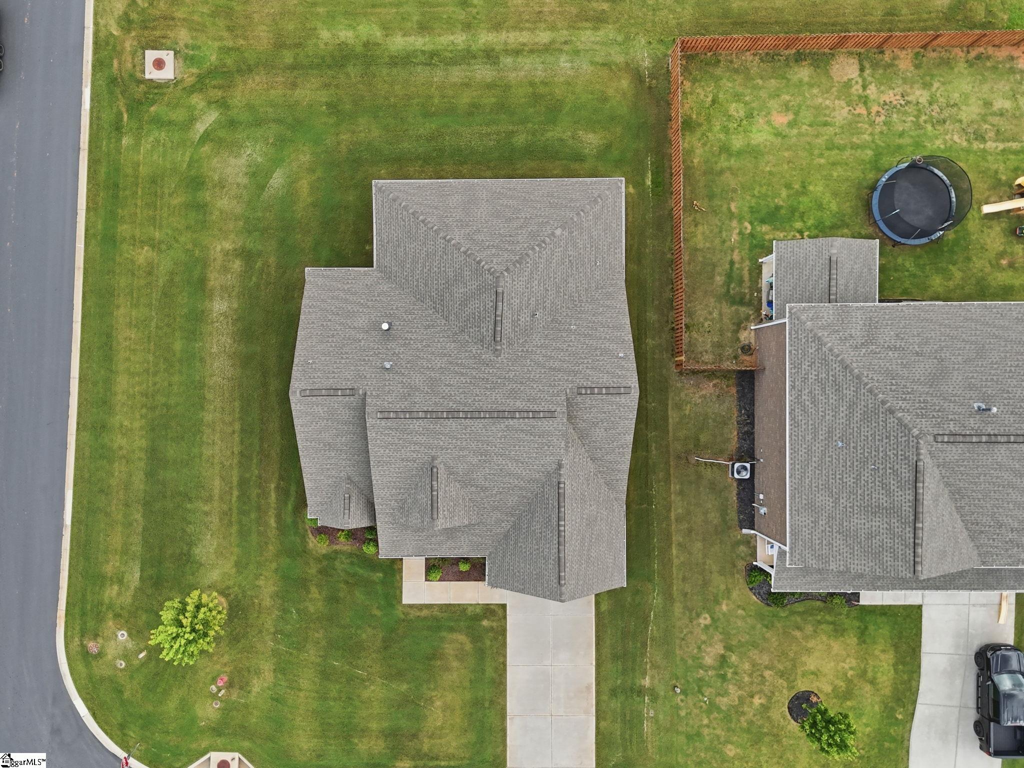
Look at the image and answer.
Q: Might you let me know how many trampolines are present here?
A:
1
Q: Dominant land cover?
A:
grass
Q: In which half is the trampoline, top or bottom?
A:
top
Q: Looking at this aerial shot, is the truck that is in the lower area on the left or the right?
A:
right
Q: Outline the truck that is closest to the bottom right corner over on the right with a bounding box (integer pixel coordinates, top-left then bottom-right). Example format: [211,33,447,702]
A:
[973,642,1024,754]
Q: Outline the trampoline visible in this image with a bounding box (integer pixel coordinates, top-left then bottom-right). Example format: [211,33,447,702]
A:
[859,154,972,252]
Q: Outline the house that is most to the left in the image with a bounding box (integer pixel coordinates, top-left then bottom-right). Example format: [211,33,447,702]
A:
[291,179,638,601]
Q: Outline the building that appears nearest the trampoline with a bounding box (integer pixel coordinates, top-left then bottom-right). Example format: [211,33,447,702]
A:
[744,237,1024,592]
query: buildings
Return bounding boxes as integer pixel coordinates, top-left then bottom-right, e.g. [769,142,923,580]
[291,179,638,601]
[744,237,1024,592]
